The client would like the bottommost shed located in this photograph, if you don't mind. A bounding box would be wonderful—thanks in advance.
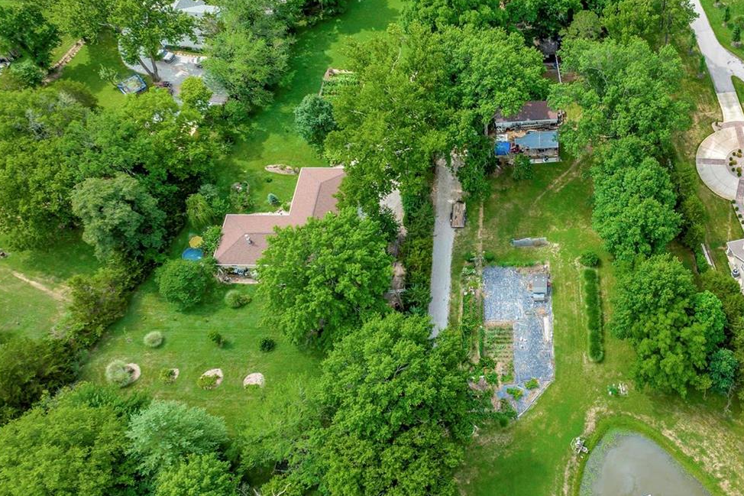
[531,276,548,302]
